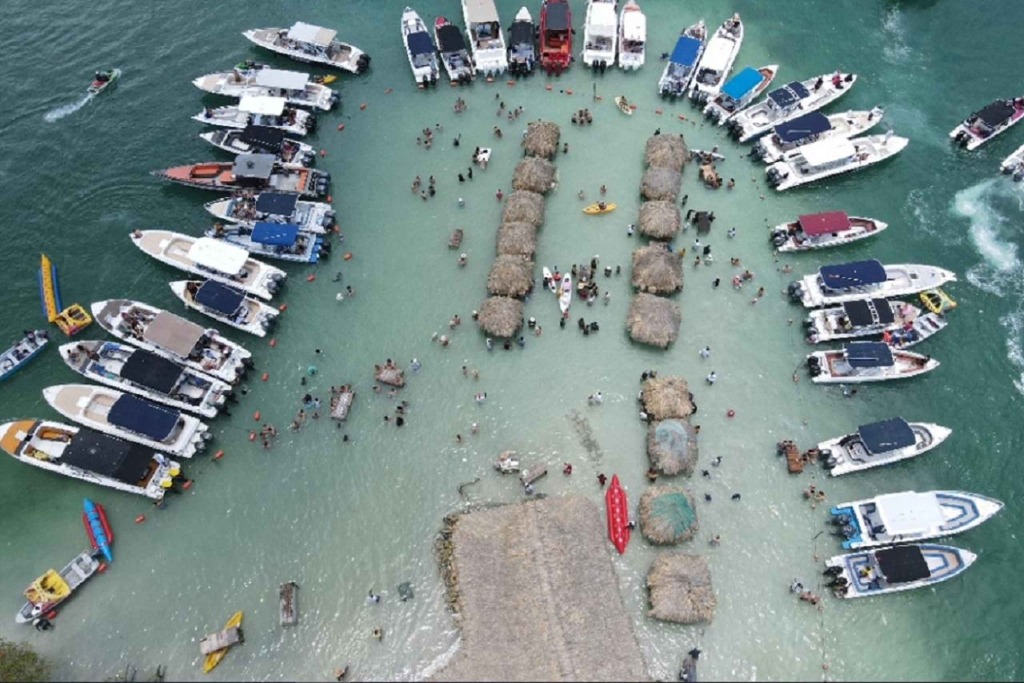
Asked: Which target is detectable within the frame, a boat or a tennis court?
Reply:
boat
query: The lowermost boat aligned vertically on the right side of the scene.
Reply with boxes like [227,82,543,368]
[605,474,630,552]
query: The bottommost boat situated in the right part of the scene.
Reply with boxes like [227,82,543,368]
[817,542,977,606]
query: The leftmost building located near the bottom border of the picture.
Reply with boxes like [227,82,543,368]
[453,493,653,683]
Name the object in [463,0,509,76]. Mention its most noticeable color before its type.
white boat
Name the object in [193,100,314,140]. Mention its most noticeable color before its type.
white boat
